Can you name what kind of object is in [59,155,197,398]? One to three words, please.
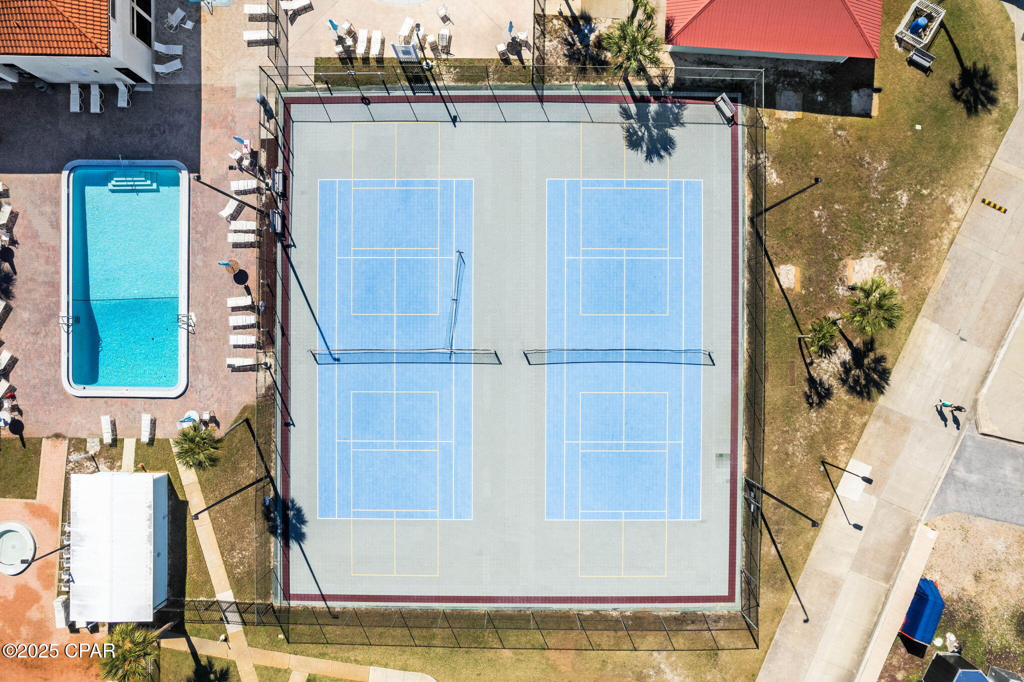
swimming pool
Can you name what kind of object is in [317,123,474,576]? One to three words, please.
tennis court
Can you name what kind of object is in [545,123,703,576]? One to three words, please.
tennis court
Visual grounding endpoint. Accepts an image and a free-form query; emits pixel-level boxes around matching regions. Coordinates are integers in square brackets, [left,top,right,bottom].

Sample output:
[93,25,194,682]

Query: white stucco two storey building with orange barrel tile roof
[0,0,156,93]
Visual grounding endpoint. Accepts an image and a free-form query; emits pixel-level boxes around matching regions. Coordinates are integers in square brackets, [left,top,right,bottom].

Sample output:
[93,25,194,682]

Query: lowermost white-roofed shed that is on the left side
[71,472,169,623]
